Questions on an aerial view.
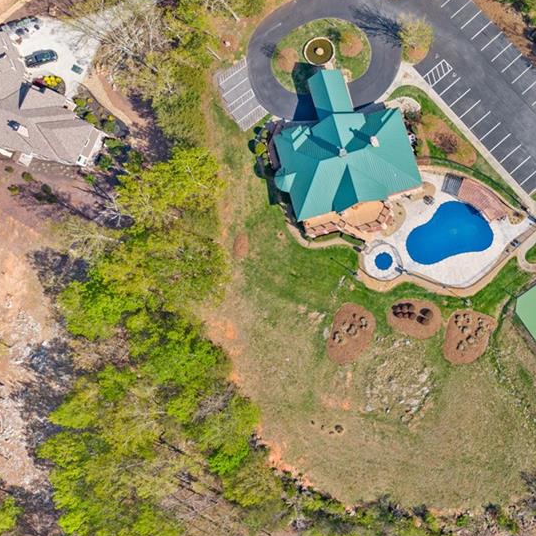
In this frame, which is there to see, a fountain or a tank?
fountain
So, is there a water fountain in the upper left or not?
No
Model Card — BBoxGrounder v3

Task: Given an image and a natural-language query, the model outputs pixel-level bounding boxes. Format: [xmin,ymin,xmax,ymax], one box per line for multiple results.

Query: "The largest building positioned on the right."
[274,70,422,220]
